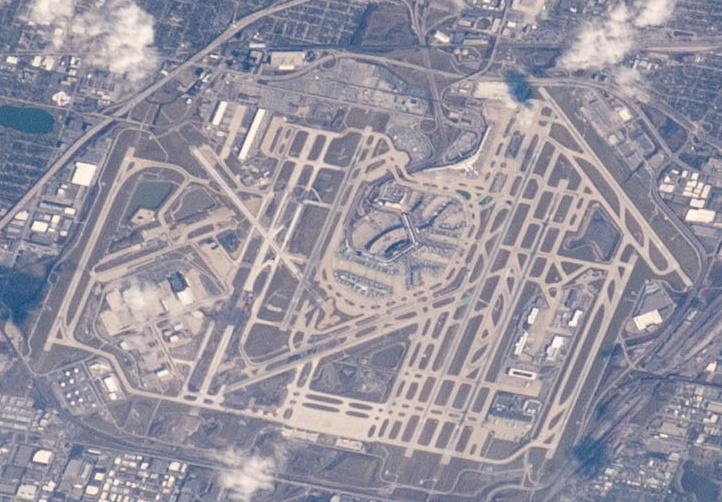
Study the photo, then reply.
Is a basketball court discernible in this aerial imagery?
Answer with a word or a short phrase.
No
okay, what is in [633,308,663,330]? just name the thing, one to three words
building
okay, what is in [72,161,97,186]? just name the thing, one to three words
building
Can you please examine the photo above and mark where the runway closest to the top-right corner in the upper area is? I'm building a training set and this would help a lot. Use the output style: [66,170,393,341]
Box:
[537,84,694,286]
